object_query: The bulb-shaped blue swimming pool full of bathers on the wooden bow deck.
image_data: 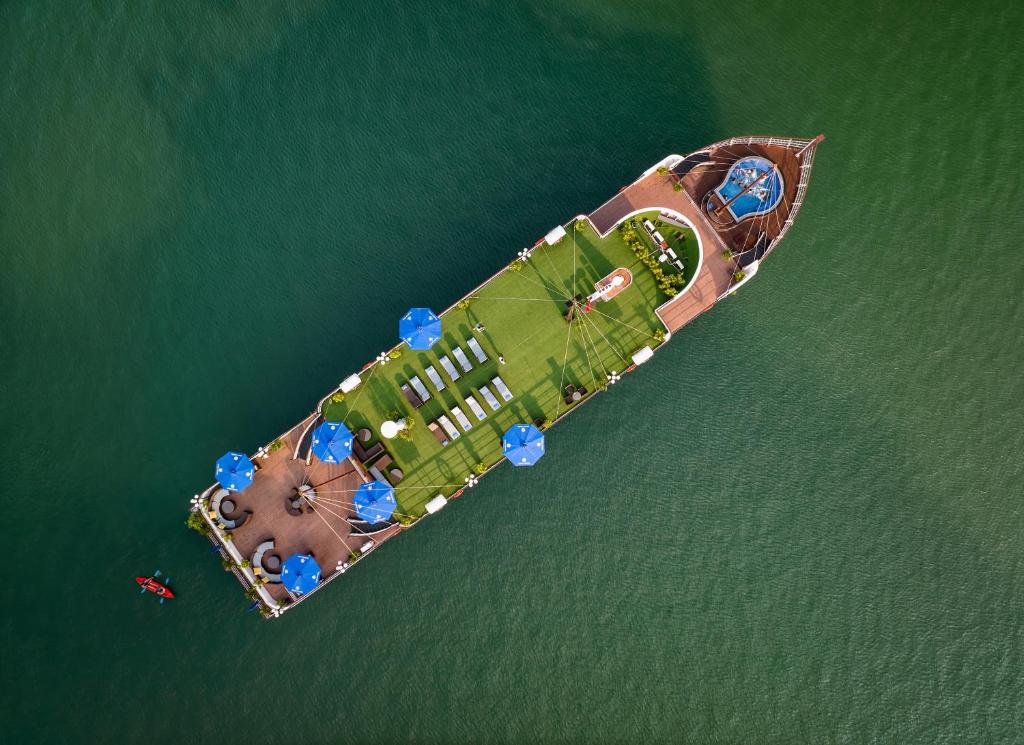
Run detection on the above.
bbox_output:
[711,157,783,224]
